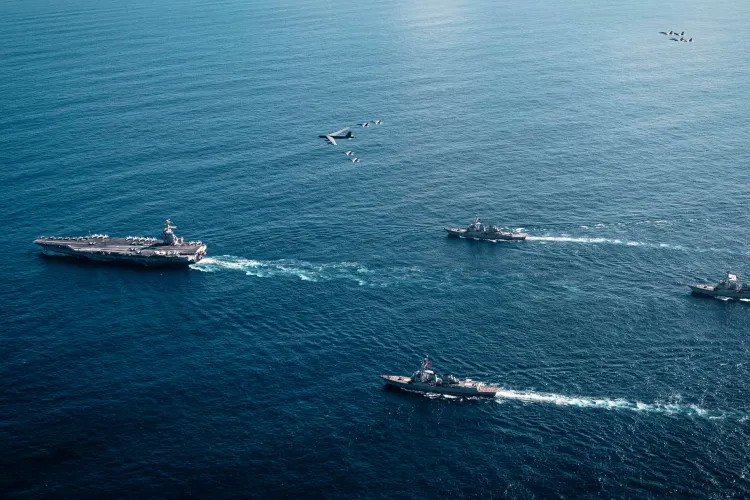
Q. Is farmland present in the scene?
No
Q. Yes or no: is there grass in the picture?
No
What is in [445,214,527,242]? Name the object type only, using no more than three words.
ship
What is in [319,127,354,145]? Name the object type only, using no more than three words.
airplane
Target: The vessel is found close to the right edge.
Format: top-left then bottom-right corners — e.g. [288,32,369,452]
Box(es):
[689,270,750,299]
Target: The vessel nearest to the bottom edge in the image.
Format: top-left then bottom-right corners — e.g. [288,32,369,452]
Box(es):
[381,357,499,398]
